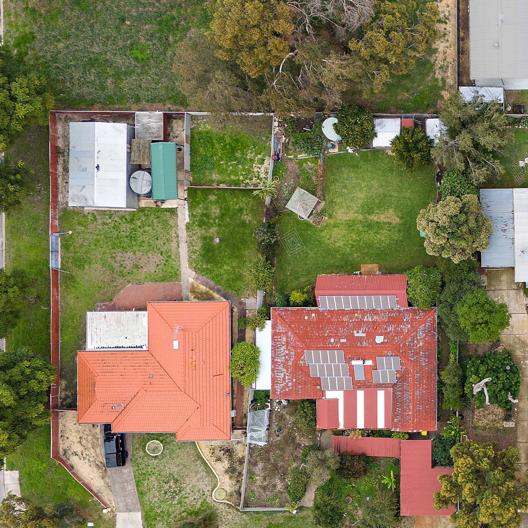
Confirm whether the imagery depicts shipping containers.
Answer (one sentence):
No, I can't see a single shipping container in this photo.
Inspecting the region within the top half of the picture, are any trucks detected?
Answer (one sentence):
No, within the top half of the picture there is no truck.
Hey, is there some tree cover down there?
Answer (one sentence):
Yes, there is tree cover in the image.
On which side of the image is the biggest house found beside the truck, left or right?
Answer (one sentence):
The biggest house found beside the truck sits on the left side.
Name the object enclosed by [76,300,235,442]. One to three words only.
house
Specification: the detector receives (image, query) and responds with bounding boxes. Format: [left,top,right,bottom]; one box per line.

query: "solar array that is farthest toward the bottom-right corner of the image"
[372,356,400,383]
